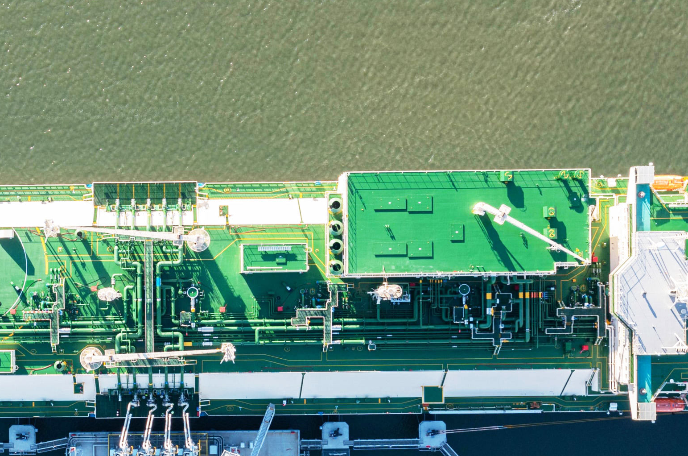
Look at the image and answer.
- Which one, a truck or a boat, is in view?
boat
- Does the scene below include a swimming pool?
No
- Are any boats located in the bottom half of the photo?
Yes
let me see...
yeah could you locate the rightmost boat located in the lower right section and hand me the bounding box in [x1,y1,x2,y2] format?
[653,395,688,411]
